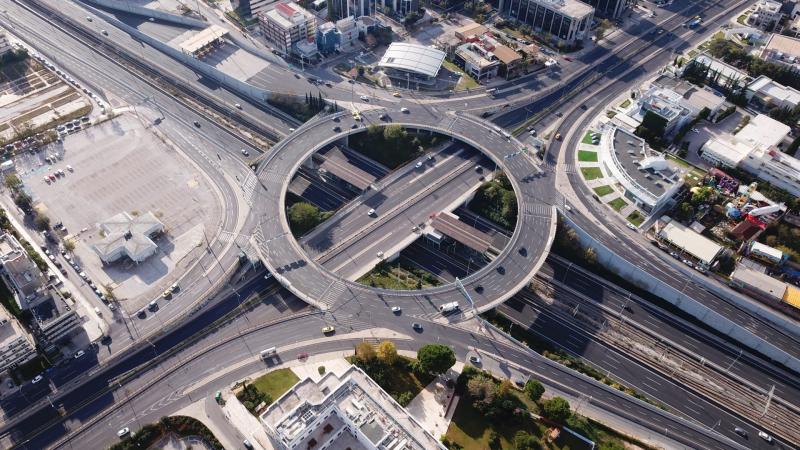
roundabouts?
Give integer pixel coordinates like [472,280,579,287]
[249,105,555,325]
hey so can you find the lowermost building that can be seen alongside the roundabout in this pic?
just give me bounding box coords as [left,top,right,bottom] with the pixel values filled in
[259,364,451,450]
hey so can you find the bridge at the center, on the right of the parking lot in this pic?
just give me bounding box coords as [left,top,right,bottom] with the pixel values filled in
[328,155,479,265]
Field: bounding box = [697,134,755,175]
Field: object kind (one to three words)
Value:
building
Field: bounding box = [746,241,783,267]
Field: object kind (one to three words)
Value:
shed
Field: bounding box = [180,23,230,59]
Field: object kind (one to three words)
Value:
toll station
